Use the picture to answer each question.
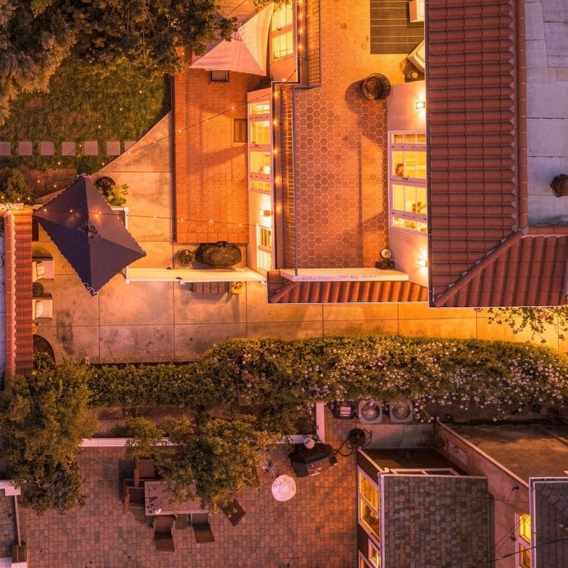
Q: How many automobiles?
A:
zero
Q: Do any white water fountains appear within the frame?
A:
No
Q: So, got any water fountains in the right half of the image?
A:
No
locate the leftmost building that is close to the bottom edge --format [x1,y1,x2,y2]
[357,449,487,568]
